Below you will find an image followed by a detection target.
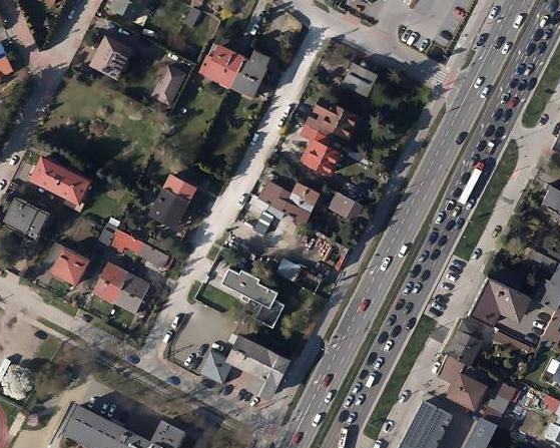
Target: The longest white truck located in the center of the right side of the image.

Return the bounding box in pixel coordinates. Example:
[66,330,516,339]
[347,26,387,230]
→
[458,160,484,205]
